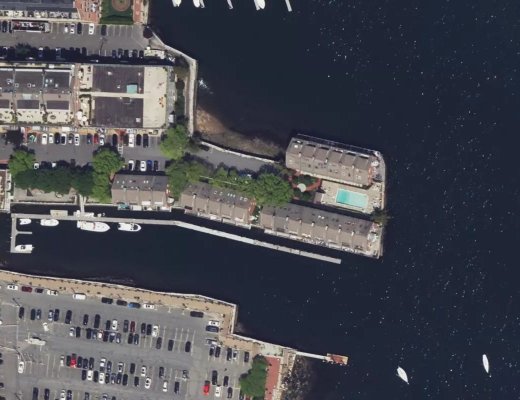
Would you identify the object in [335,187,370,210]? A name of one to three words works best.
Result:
swimming pool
